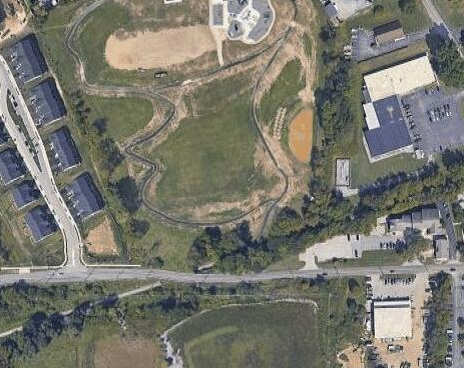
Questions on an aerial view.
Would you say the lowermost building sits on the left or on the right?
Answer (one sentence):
The lowermost building is on the right side of the image.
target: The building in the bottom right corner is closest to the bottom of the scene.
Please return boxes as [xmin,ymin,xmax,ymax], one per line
[374,308,412,339]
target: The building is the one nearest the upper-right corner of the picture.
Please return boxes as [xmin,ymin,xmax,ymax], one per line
[371,18,407,47]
